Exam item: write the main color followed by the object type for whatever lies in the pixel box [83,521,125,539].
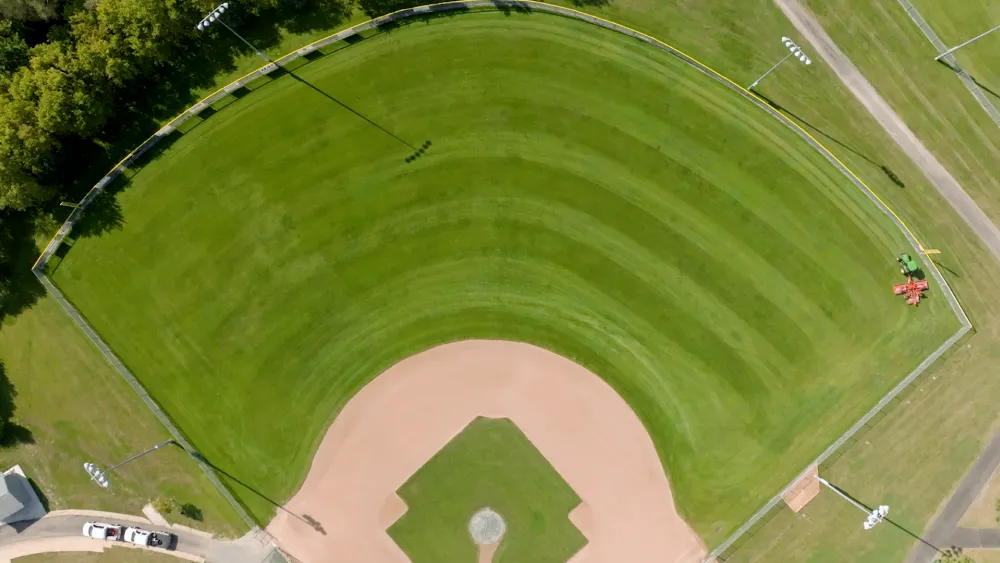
white vehicle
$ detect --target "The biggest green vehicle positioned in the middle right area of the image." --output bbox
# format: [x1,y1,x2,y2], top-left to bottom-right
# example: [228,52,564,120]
[896,254,918,274]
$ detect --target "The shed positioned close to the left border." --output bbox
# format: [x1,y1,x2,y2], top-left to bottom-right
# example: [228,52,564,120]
[0,472,31,521]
